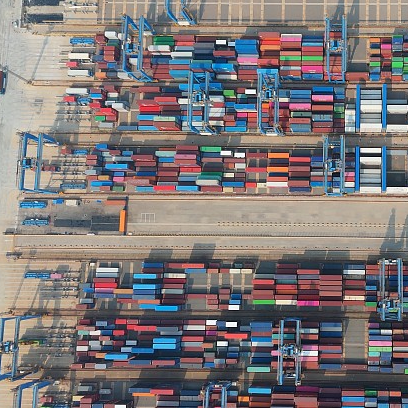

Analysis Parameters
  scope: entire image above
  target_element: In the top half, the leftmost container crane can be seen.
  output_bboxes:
[16,130,69,195]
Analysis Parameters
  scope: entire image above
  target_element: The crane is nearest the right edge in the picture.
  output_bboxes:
[373,258,405,322]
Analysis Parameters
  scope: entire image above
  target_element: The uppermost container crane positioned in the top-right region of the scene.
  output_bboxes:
[321,11,353,82]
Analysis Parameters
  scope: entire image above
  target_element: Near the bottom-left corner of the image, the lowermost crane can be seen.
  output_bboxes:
[14,378,66,408]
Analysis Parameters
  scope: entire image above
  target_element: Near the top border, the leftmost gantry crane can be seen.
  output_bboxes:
[119,10,160,81]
